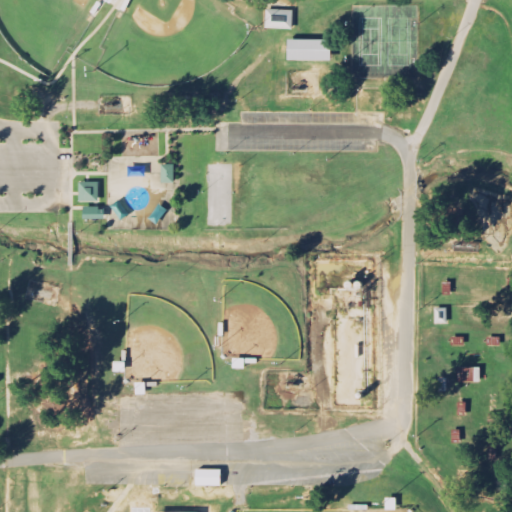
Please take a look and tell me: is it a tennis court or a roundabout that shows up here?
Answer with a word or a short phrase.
tennis court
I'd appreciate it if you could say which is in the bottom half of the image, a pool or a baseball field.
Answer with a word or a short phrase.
baseball field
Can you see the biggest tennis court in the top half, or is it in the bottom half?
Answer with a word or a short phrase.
top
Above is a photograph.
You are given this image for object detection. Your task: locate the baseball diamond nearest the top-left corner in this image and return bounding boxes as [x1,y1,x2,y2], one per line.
[0,0,92,75]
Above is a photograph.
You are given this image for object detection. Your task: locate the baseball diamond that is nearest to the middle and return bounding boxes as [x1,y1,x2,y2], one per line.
[222,280,300,361]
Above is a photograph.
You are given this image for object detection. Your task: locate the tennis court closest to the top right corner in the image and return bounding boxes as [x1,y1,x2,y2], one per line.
[353,5,418,76]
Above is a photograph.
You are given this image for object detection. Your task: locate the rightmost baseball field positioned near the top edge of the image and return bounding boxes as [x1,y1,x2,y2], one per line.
[98,0,248,86]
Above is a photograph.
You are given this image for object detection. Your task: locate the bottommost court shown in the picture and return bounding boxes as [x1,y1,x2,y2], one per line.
[208,164,232,226]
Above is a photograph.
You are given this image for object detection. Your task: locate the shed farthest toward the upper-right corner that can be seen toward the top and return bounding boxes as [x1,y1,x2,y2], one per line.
[287,38,330,60]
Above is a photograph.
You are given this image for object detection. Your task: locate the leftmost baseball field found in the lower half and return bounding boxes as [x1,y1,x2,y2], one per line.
[126,294,212,382]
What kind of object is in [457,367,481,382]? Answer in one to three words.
house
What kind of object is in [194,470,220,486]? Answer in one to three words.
barn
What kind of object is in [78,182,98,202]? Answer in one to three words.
house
